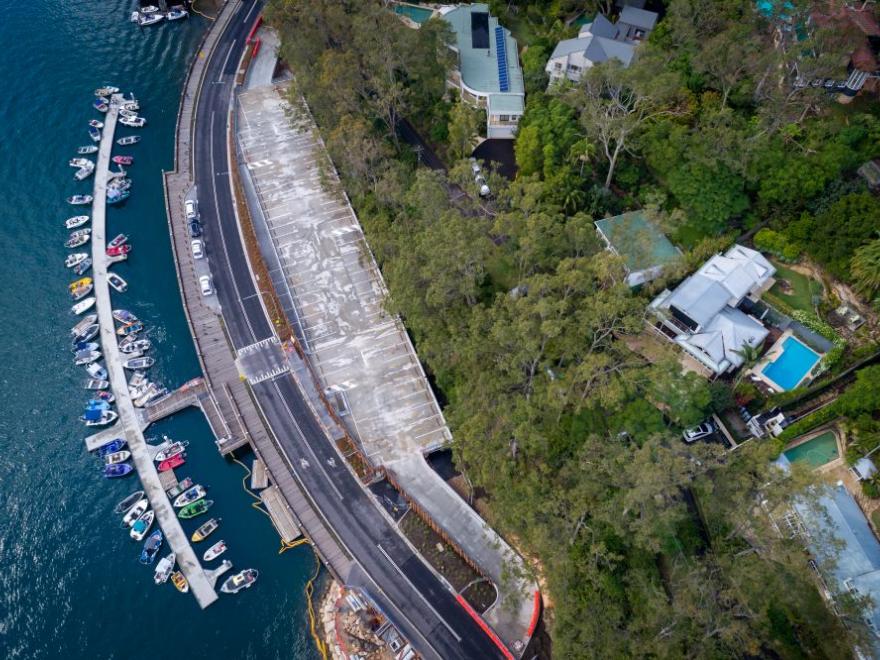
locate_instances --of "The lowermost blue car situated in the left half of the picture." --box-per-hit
[188,217,202,238]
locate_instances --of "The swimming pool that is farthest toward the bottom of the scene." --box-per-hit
[776,419,848,478]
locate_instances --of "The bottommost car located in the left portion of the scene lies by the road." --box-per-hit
[199,275,213,297]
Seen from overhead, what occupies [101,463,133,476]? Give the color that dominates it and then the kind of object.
blue boat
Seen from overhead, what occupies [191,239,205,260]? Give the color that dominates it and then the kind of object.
white vehicle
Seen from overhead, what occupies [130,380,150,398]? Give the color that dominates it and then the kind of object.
white boat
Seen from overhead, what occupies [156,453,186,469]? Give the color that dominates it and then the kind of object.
red boat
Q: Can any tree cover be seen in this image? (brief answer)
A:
Yes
